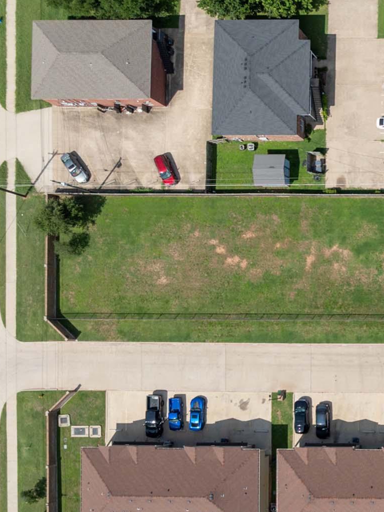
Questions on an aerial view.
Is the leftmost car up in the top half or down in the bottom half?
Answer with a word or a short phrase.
top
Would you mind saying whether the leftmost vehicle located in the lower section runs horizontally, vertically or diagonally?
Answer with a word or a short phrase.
vertically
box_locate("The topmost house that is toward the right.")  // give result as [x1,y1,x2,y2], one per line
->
[212,20,327,141]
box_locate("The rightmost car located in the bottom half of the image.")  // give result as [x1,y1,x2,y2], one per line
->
[315,403,331,437]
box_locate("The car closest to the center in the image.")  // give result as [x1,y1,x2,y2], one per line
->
[156,152,178,185]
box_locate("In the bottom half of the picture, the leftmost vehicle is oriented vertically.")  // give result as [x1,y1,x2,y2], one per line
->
[144,395,164,436]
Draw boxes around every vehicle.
[156,152,178,185]
[166,397,184,430]
[62,151,90,183]
[144,395,164,436]
[187,397,205,430]
[315,403,331,437]
[293,400,310,434]
[377,116,384,130]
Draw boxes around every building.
[251,155,289,187]
[212,20,327,141]
[32,19,180,107]
[276,442,384,512]
[80,441,270,512]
